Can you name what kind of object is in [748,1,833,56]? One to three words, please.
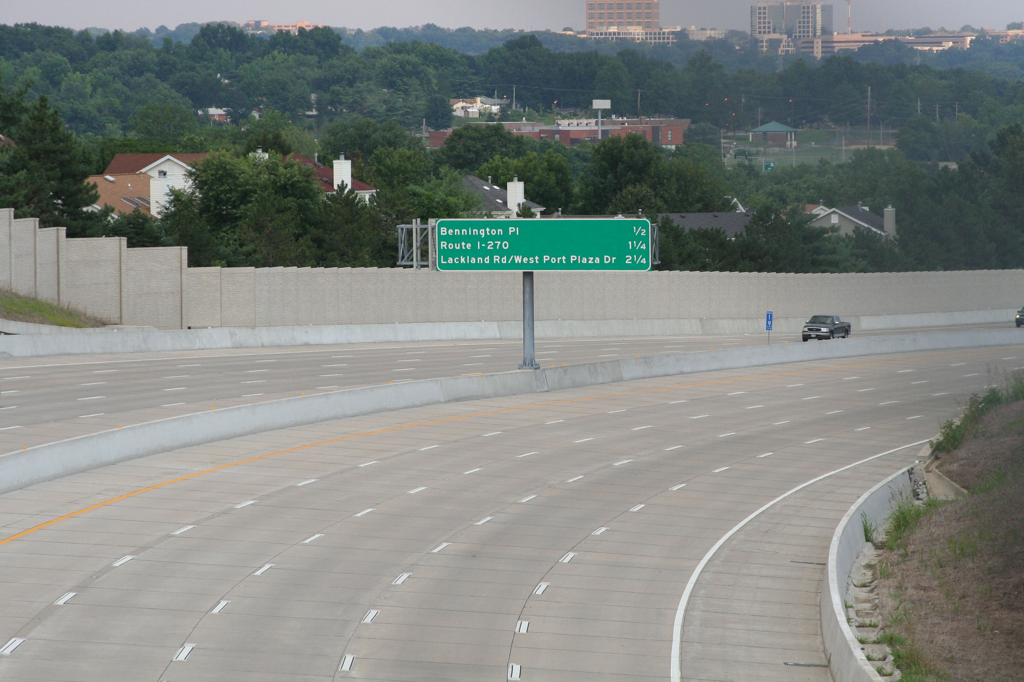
building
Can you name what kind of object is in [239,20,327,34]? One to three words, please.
building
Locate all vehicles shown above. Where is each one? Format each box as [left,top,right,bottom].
[1016,311,1024,327]
[797,313,851,342]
